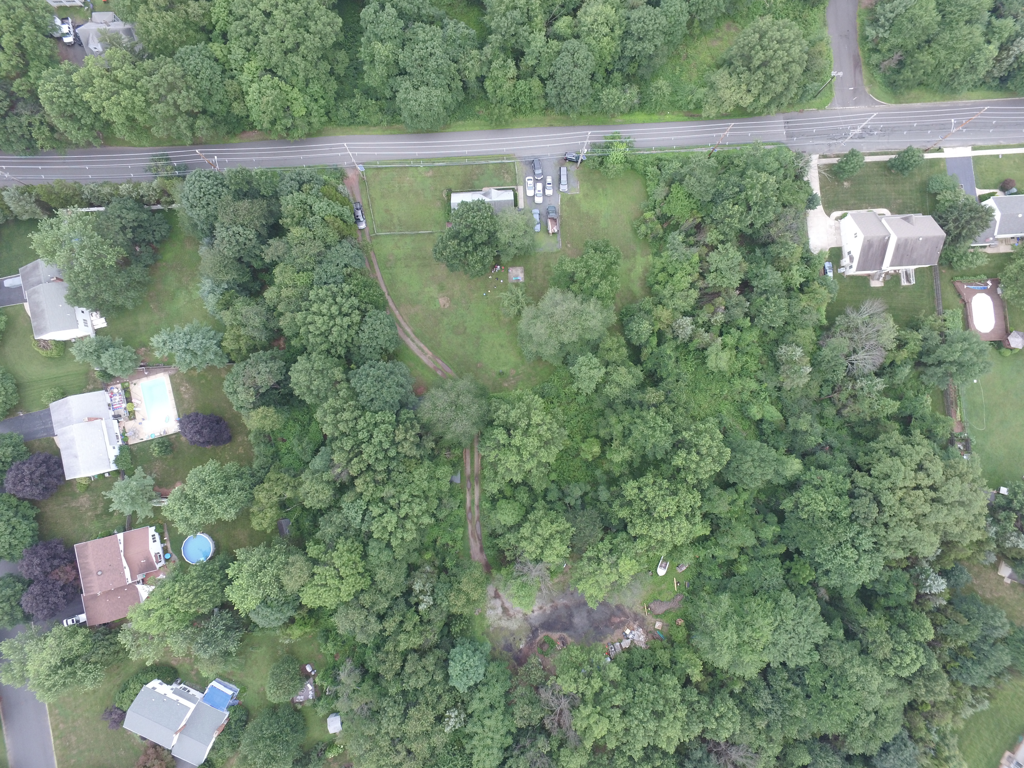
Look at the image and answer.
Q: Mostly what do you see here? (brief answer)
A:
trees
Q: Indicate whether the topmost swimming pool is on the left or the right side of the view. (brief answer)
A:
right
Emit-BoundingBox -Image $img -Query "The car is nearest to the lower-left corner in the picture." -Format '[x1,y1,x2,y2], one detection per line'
[62,615,85,628]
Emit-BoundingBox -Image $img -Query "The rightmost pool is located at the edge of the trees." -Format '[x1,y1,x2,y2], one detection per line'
[972,293,995,333]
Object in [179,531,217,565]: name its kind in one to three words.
swimming pool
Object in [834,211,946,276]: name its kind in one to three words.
house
